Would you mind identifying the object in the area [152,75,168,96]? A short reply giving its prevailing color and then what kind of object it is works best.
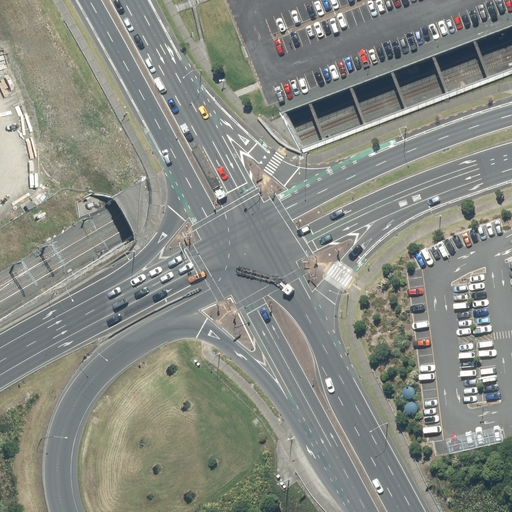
white vehicle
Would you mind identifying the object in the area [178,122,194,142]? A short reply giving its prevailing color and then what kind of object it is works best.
white vehicle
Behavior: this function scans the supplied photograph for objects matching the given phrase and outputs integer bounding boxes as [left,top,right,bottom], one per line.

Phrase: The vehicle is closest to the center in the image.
[238,264,292,295]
